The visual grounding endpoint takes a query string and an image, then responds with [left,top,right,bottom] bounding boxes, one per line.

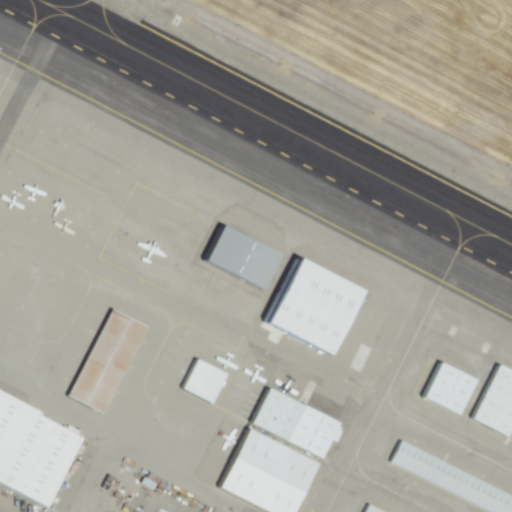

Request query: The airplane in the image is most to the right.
[277,376,299,394]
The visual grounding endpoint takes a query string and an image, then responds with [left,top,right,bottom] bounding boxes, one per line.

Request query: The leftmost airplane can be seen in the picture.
[2,191,26,208]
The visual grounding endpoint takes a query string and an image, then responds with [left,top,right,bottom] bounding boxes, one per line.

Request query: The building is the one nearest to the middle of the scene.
[206,225,282,289]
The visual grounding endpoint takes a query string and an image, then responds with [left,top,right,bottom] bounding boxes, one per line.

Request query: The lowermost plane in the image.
[223,428,238,450]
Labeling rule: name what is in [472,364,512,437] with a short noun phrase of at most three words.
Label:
hangar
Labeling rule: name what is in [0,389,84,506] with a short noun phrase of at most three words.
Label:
building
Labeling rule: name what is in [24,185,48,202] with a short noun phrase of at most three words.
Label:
airplane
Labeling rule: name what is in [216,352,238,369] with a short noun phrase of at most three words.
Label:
airplane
